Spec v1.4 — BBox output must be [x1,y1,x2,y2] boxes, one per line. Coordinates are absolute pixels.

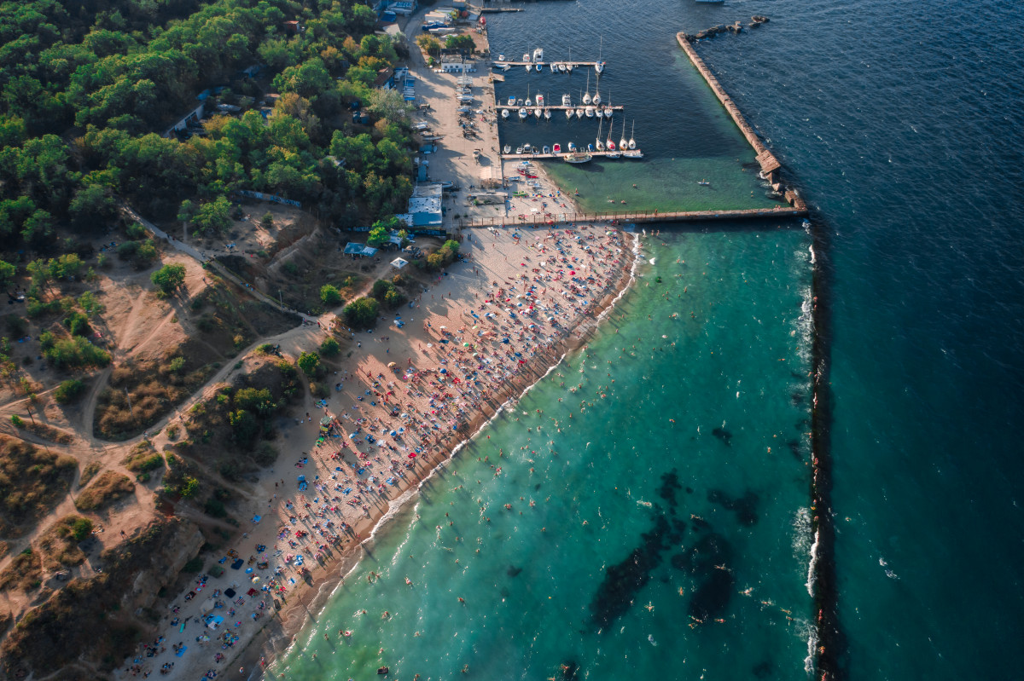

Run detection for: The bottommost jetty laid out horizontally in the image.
[453,207,809,225]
